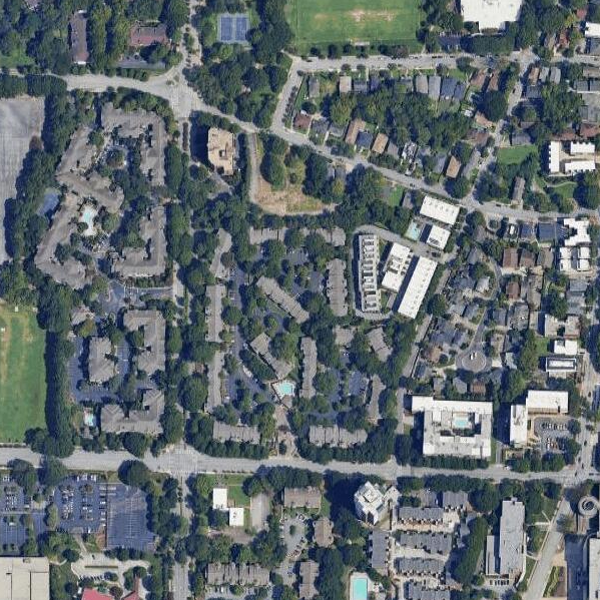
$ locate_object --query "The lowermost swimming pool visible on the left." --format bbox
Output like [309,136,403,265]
[82,407,96,426]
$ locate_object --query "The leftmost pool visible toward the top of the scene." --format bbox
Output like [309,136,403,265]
[80,206,98,236]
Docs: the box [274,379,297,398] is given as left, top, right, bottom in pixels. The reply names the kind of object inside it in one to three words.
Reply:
swimming pool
